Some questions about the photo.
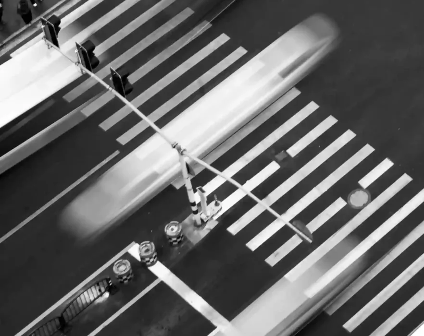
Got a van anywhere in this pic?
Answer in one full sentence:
Yes, there's a van down there.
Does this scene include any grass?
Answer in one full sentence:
No, the scene doesn't show any grass.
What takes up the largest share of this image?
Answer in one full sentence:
The largest share of the image is taken up by paved ground.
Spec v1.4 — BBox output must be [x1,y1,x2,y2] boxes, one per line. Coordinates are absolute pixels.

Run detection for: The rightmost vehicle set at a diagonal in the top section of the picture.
[111,46,289,200]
